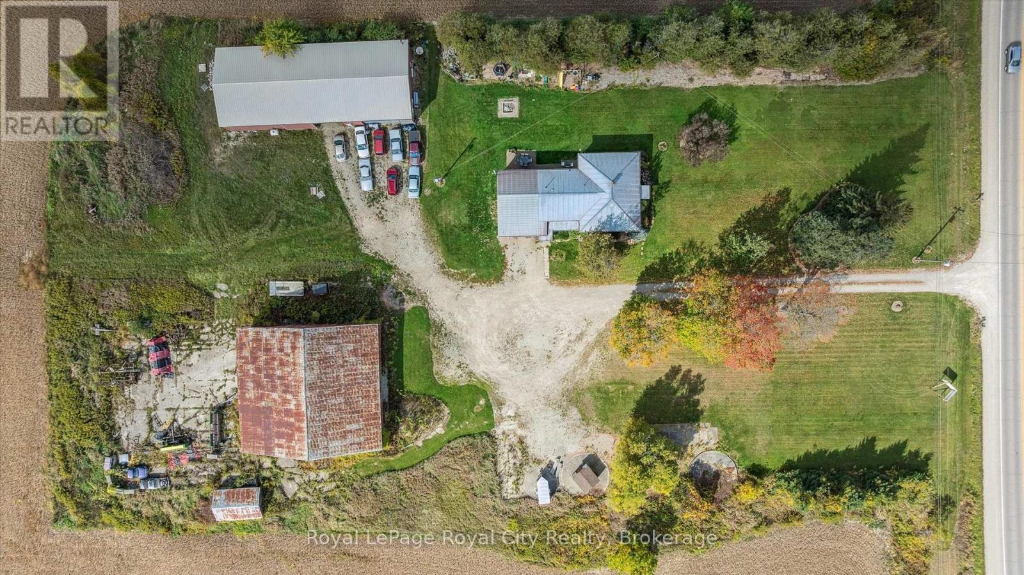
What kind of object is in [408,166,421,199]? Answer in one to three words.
vehicle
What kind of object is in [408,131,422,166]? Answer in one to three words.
vehicle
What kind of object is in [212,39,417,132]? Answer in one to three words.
shed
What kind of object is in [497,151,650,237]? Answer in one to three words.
house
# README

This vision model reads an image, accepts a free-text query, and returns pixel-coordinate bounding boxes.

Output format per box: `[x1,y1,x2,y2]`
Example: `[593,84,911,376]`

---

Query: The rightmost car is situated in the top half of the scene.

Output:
[1004,46,1023,75]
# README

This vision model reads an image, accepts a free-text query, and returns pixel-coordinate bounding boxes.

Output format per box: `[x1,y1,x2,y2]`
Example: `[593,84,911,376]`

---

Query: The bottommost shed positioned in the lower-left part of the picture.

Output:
[209,486,266,520]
